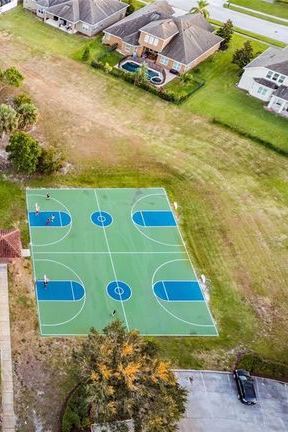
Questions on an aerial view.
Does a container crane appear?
No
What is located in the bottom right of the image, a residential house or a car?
car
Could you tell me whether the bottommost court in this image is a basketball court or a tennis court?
basketball court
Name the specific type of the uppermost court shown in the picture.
basketball court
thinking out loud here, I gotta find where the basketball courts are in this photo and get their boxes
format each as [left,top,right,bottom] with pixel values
[26,188,187,253]
[32,252,219,336]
